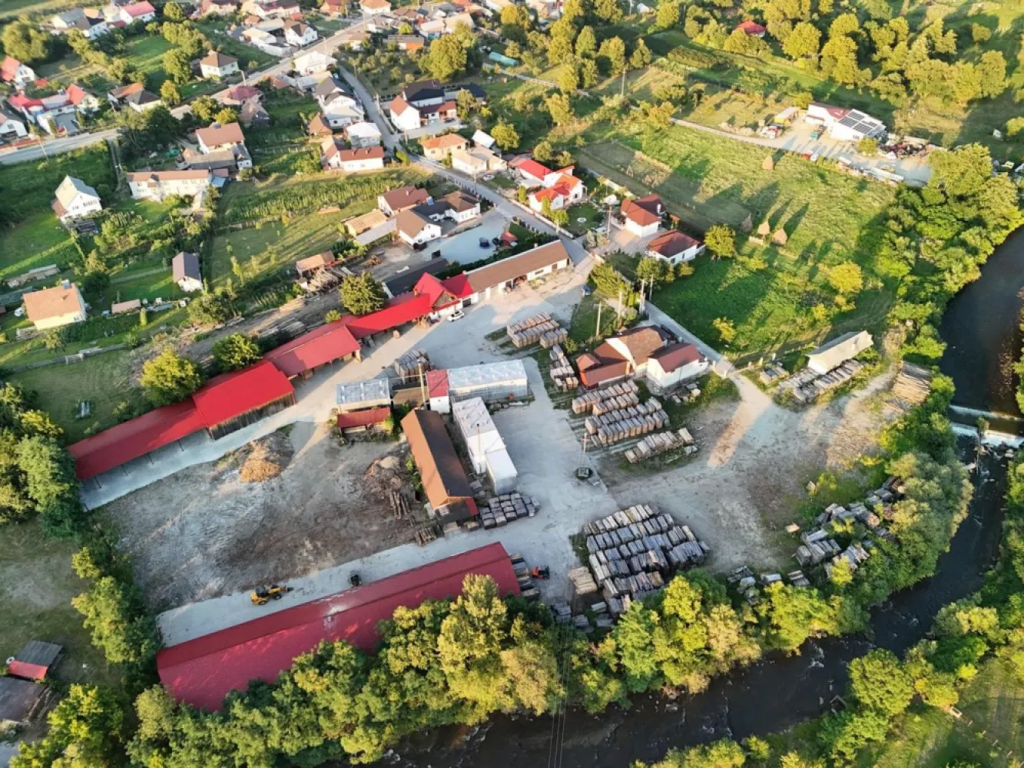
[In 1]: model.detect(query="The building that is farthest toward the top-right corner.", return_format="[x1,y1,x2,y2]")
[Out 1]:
[805,104,890,148]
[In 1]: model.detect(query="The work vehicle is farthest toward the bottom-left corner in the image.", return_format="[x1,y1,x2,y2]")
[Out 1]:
[242,581,290,608]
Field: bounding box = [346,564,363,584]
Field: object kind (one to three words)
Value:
work vehicle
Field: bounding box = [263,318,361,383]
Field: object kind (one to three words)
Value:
shed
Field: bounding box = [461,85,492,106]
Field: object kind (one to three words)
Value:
house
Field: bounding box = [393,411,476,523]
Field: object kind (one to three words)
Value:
building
